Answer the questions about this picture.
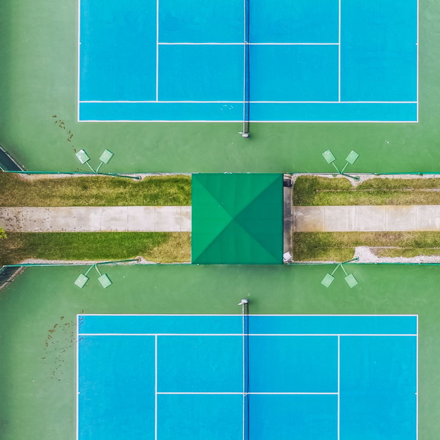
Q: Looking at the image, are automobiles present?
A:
No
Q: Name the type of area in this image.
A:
sports ground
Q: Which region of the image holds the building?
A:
center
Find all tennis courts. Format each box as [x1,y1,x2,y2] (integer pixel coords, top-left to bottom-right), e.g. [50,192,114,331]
[0,0,440,173]
[0,265,440,440]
